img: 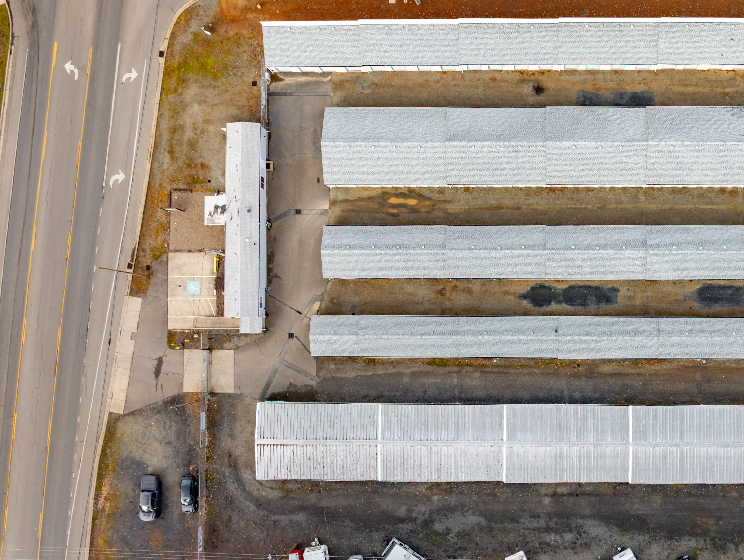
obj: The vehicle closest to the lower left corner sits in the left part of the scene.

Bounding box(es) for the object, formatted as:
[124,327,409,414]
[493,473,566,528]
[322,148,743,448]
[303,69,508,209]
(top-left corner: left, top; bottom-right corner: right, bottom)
[136,473,162,523]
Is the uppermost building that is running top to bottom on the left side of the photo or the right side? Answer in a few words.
left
